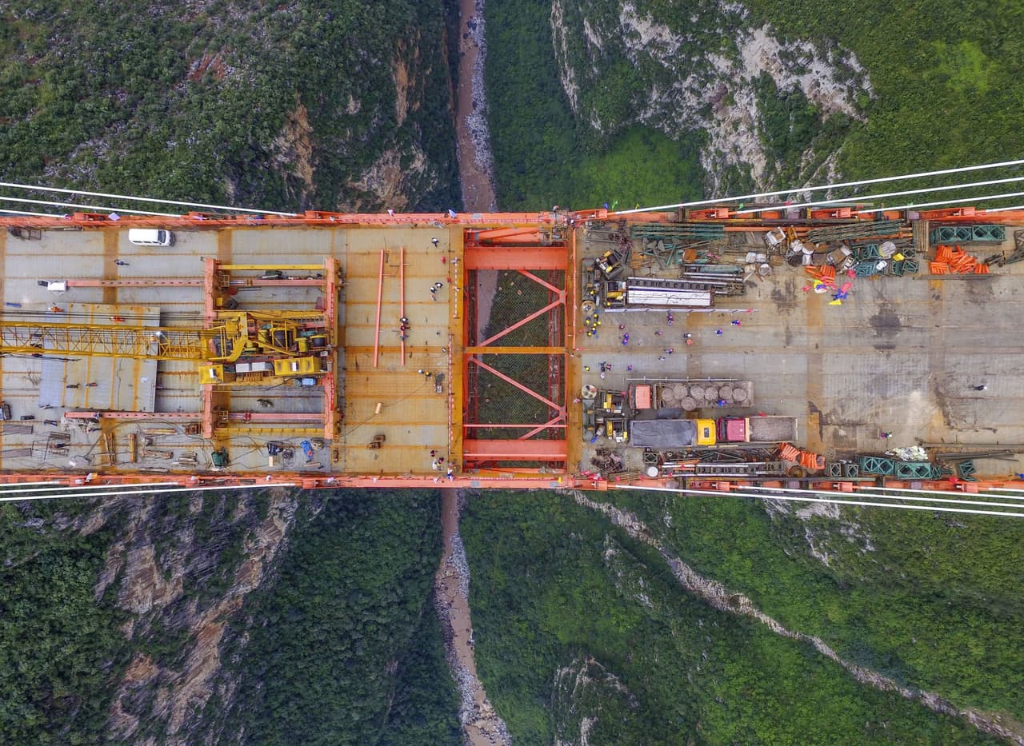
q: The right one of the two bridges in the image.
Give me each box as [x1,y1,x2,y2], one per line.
[571,200,1024,499]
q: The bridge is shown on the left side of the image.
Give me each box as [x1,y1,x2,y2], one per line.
[0,210,464,489]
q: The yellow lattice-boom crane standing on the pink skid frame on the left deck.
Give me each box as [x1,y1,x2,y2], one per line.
[0,256,344,442]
